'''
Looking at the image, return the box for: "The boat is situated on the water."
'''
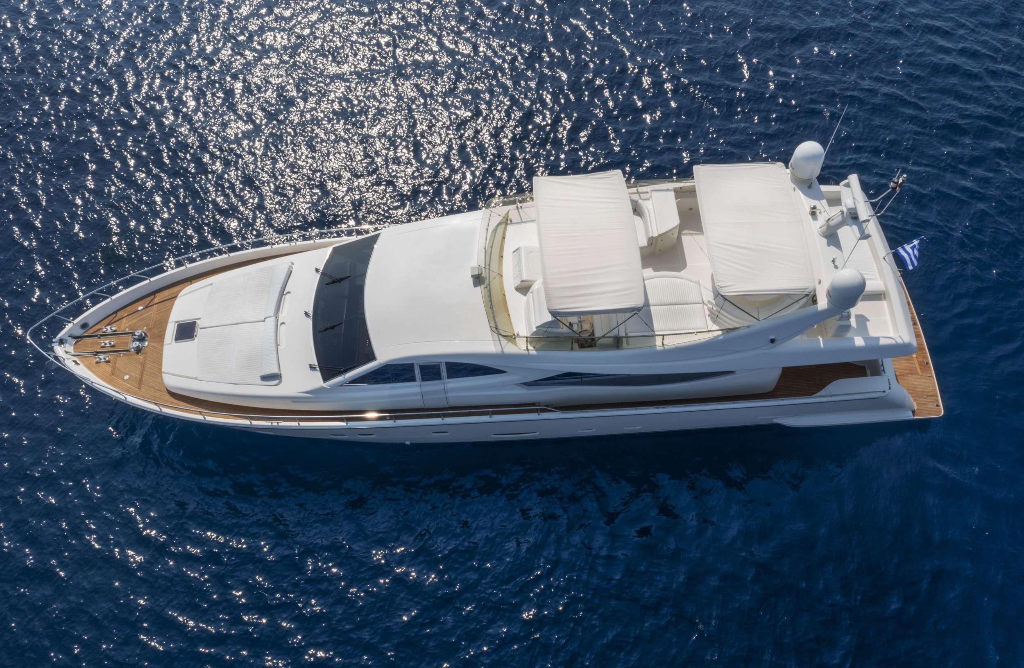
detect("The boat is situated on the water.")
[26,104,943,443]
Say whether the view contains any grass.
No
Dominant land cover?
water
